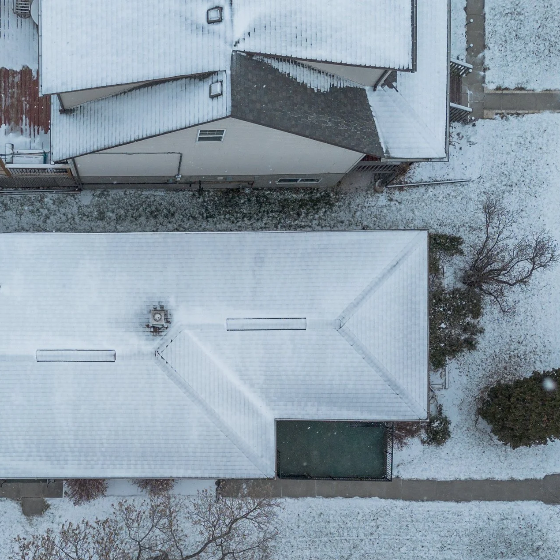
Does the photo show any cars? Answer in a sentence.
No, this view has no car in it.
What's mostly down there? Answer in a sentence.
The bulk of the photo consists of buildings.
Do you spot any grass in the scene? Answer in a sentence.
Yes, the picture does contain grass.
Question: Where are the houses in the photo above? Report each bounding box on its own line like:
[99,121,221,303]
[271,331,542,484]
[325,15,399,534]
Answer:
[38,0,474,192]
[0,233,428,485]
